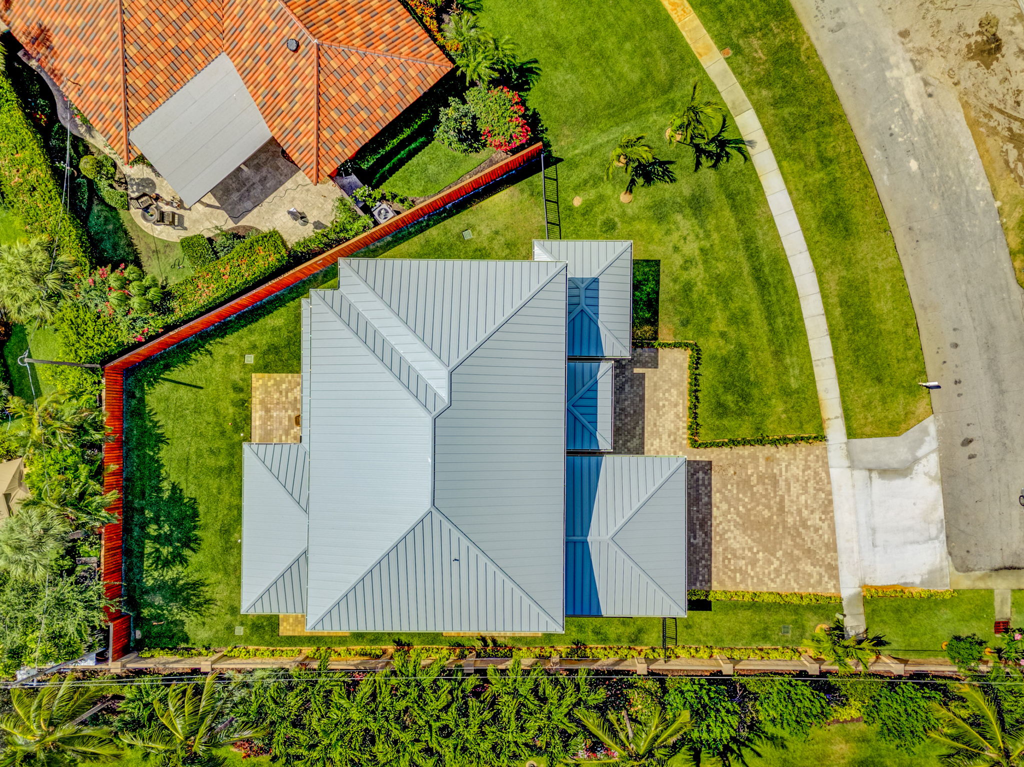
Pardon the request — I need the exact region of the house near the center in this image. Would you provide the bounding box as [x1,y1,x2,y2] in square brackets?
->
[240,240,686,635]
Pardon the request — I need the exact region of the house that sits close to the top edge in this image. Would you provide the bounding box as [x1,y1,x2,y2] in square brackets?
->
[0,0,453,186]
